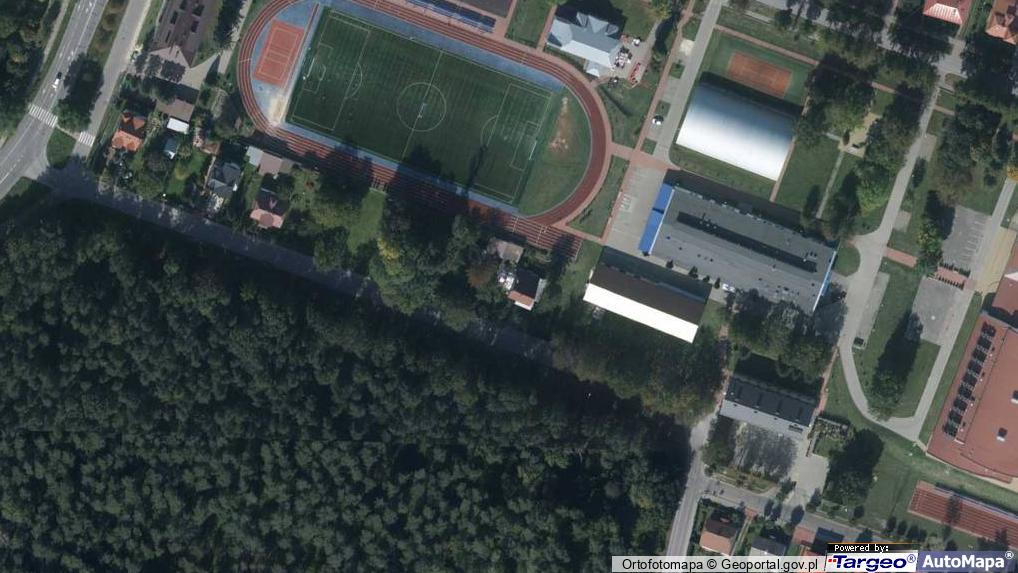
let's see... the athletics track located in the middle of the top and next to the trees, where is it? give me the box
[240,0,605,257]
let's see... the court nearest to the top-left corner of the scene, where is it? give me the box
[254,20,304,88]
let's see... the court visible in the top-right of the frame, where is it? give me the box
[701,29,818,121]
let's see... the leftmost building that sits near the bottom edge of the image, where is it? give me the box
[700,510,741,555]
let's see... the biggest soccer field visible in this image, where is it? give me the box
[283,7,561,208]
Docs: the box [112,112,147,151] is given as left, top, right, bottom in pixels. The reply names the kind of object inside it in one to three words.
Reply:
house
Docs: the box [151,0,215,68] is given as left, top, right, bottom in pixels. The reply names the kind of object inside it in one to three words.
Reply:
building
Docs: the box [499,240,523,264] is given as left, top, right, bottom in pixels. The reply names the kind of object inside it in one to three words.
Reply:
shed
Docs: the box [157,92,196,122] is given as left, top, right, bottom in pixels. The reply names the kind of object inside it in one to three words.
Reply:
building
